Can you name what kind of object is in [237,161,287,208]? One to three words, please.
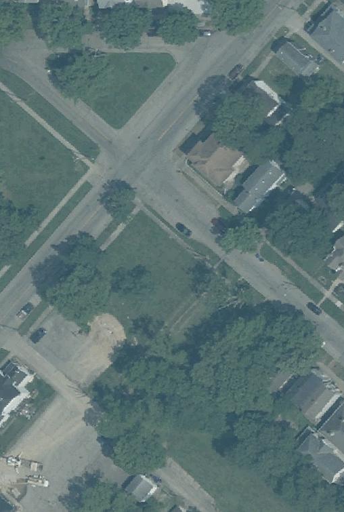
house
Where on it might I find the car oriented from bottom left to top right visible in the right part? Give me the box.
[228,64,243,81]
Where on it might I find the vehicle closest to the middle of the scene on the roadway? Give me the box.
[176,222,193,236]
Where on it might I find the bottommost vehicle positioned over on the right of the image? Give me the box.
[306,301,322,316]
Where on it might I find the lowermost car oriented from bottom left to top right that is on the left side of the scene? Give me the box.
[30,328,47,343]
